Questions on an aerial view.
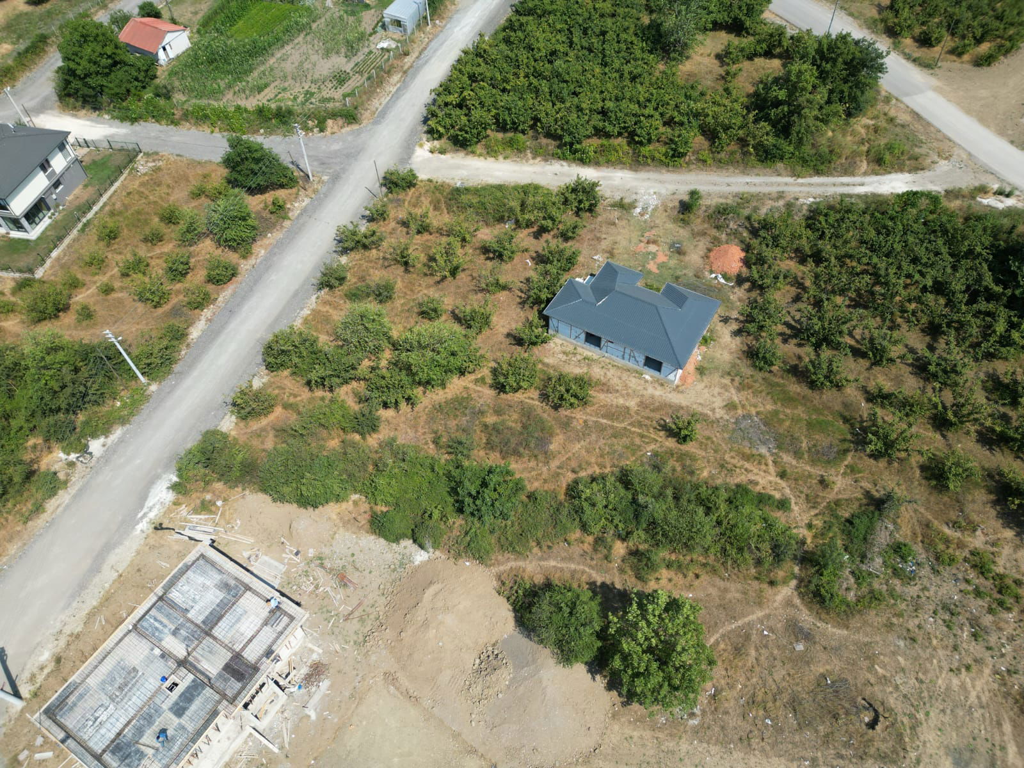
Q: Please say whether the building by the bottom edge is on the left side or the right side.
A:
left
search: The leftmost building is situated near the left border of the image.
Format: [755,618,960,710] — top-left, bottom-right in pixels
[0,117,84,240]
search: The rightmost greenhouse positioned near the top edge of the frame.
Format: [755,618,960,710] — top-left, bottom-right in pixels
[382,0,441,36]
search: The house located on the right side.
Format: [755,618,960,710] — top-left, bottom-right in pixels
[543,259,718,385]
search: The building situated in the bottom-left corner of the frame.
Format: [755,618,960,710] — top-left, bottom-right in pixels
[29,537,325,768]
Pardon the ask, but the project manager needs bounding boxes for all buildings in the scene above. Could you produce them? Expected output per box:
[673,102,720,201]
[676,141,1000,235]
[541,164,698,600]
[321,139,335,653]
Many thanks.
[120,14,194,67]
[29,537,325,768]
[382,0,441,36]
[543,259,718,385]
[0,117,84,240]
